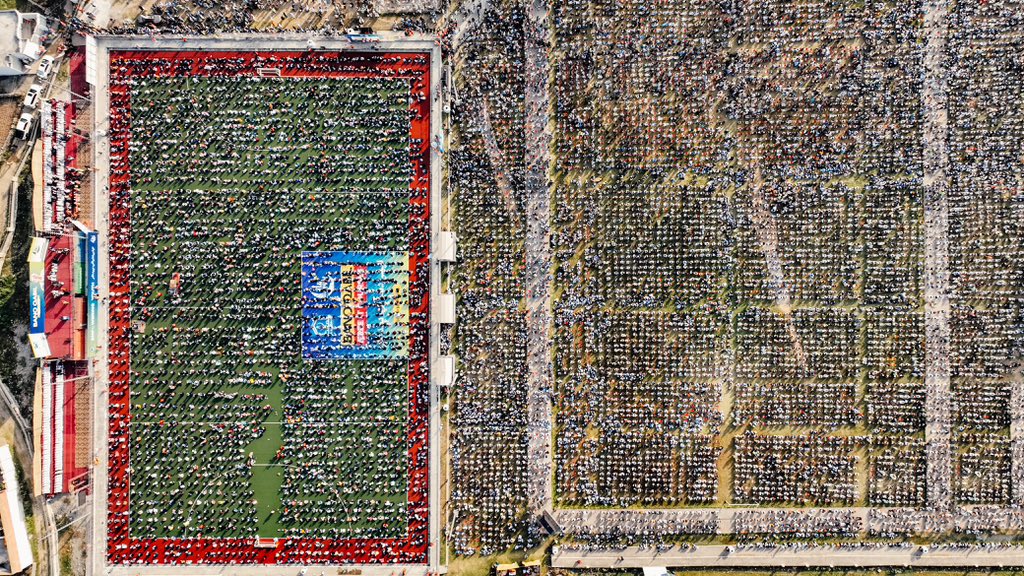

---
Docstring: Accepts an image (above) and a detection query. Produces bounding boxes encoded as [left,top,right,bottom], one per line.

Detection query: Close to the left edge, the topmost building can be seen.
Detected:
[0,10,53,63]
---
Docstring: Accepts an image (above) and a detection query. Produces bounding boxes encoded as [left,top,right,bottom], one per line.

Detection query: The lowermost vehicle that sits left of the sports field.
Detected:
[14,113,35,138]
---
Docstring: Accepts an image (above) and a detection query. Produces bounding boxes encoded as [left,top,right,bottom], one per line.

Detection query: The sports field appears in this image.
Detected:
[108,51,429,563]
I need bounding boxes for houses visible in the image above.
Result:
[0,10,53,63]
[0,436,40,576]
